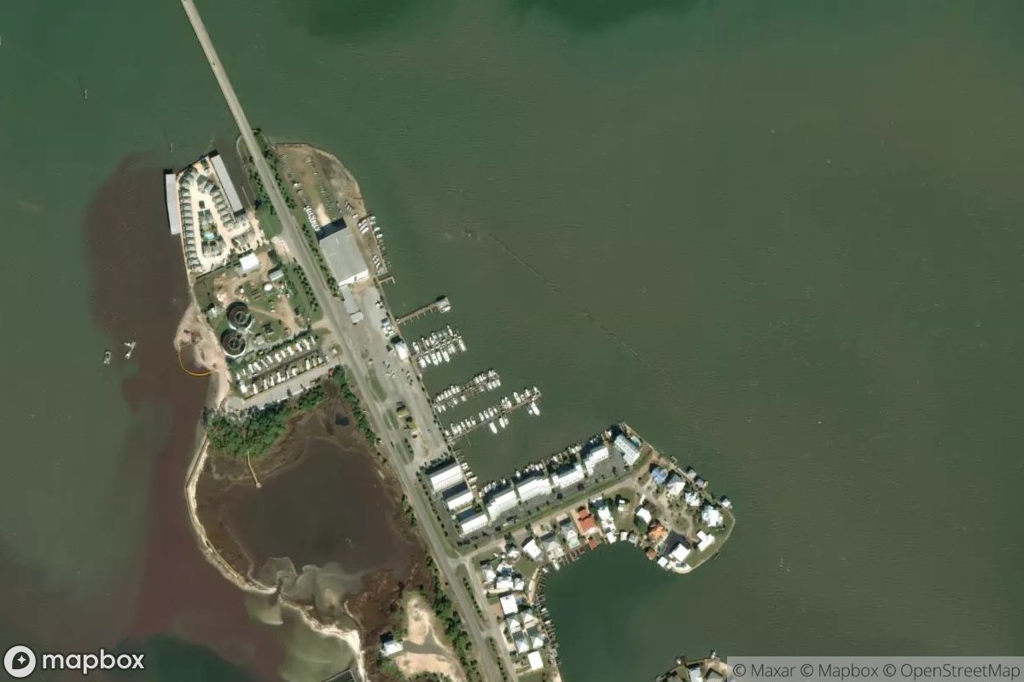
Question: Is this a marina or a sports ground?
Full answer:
What you see here is a marina.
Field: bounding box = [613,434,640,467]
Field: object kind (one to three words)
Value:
house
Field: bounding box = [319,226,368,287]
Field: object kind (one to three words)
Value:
building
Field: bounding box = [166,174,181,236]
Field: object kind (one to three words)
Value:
building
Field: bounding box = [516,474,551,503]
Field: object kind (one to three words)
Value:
house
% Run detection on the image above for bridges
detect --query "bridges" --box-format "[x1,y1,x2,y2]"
[181,0,272,182]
